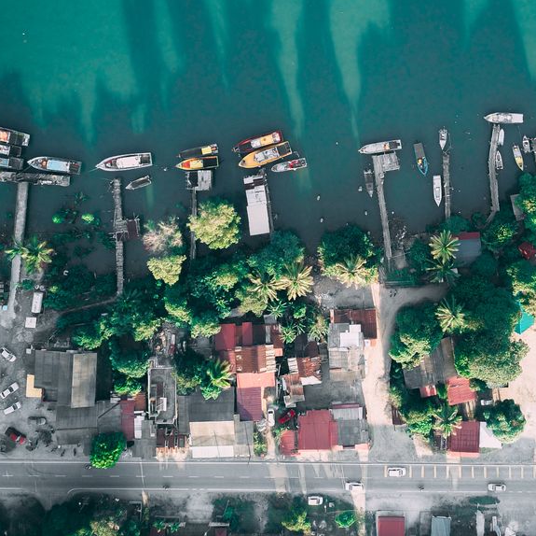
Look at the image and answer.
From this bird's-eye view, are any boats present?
Yes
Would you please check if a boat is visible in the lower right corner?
No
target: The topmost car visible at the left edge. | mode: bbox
[0,346,17,360]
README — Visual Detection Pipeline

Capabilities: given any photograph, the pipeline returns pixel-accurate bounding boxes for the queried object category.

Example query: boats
[522,136,531,154]
[0,157,25,171]
[0,143,23,157]
[439,130,447,157]
[355,139,402,155]
[365,169,374,197]
[512,145,523,170]
[484,113,523,124]
[231,130,284,153]
[495,147,503,169]
[434,176,442,210]
[92,153,154,172]
[414,143,428,176]
[124,176,153,189]
[24,158,83,177]
[270,156,308,171]
[171,145,219,162]
[232,141,294,166]
[168,157,219,170]
[498,127,505,145]
[0,127,30,146]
